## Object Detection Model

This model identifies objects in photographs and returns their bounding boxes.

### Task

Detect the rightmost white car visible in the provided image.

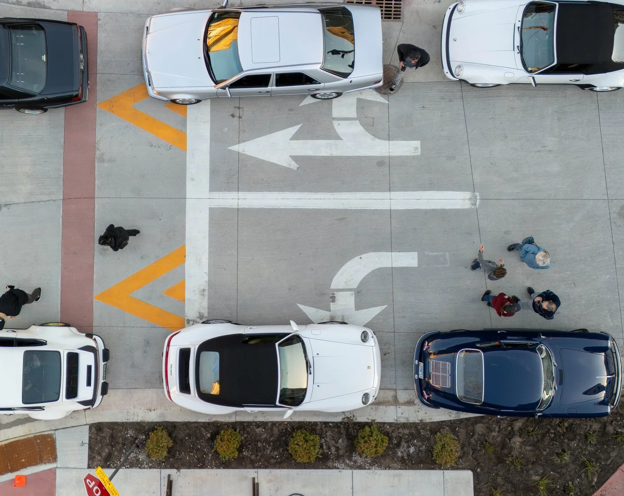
[443,0,624,88]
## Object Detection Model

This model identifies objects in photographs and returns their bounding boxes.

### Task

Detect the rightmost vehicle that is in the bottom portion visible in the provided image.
[413,327,622,419]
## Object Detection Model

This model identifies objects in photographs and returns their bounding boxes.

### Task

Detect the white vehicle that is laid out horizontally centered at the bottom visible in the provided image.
[162,320,377,417]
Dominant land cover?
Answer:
paved ground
